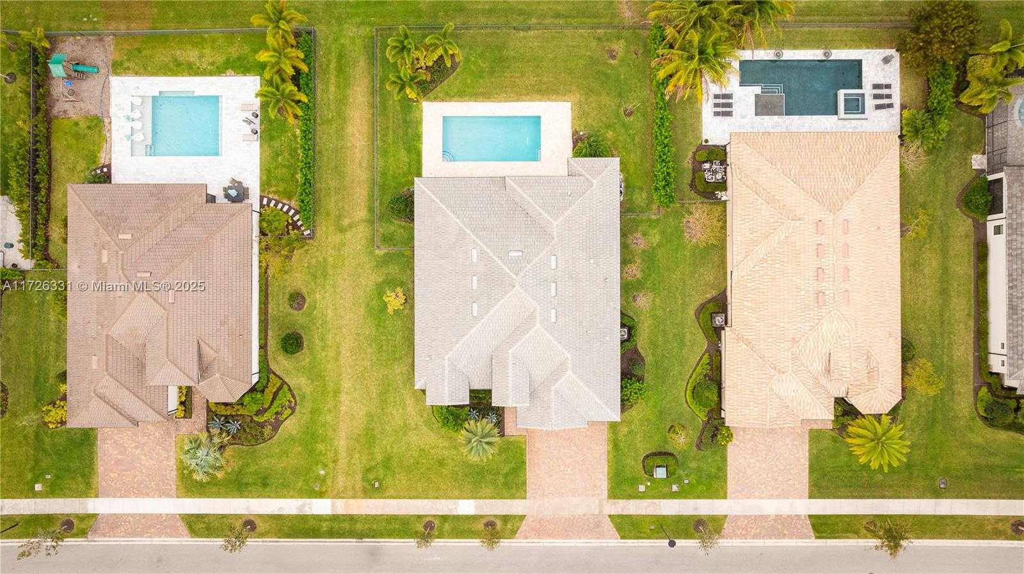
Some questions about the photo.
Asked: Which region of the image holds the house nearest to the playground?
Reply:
left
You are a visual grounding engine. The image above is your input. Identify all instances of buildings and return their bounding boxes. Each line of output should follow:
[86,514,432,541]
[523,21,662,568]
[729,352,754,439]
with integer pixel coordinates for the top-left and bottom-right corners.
[414,157,621,431]
[720,131,902,431]
[986,166,1024,392]
[66,183,259,428]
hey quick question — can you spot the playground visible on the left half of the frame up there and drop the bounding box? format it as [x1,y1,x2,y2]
[50,35,113,118]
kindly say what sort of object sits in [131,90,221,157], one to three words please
swimming pool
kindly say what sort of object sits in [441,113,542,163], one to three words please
swimming pool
